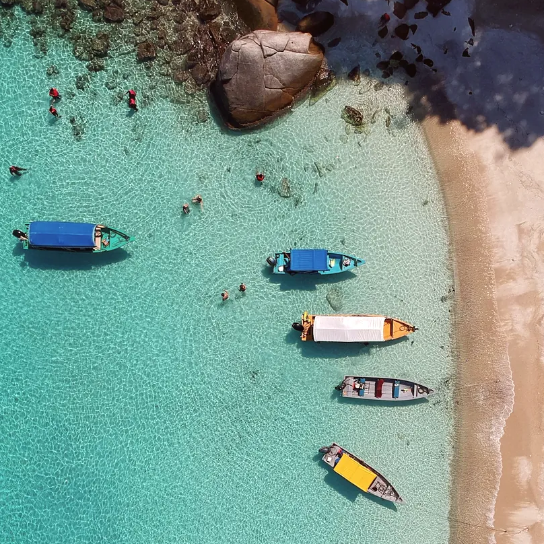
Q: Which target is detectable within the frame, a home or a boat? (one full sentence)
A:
The image shows a boat.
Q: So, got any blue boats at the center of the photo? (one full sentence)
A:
Yes, looking at the center of the photo, one can make out a blue boat.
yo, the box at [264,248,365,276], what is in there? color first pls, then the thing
blue boat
